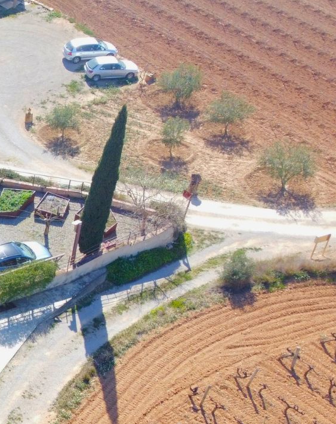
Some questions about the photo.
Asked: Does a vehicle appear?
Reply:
Yes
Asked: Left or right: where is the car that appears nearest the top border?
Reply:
left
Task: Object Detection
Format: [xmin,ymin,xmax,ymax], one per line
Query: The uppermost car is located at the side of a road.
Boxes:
[57,34,120,64]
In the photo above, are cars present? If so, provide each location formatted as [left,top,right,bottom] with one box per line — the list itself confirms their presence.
[0,240,54,276]
[57,34,120,64]
[80,52,143,81]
